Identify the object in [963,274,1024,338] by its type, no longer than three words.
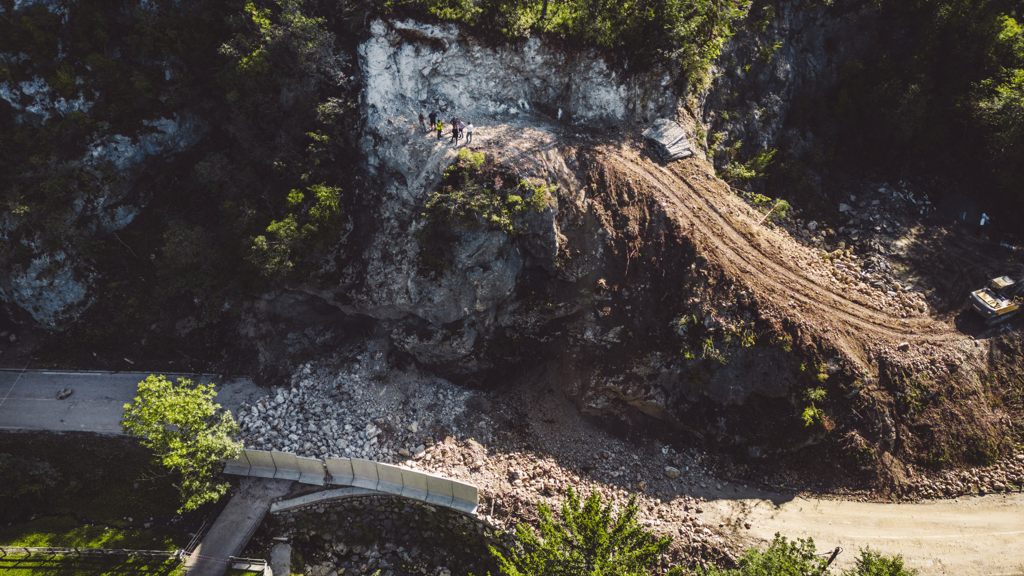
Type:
work vehicle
